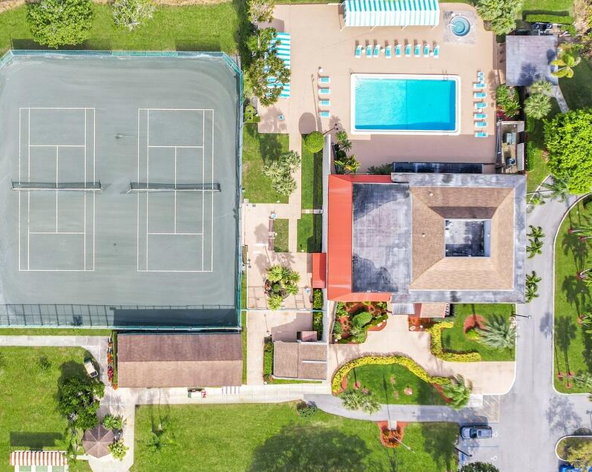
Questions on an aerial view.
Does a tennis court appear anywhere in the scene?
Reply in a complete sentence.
Yes, a tennis court is visible in the scene.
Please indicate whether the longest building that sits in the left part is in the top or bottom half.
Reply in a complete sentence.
Seen from above, the longest building that sits in the left part lies in the bottom half of the view.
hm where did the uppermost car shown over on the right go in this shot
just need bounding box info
[461,424,494,439]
